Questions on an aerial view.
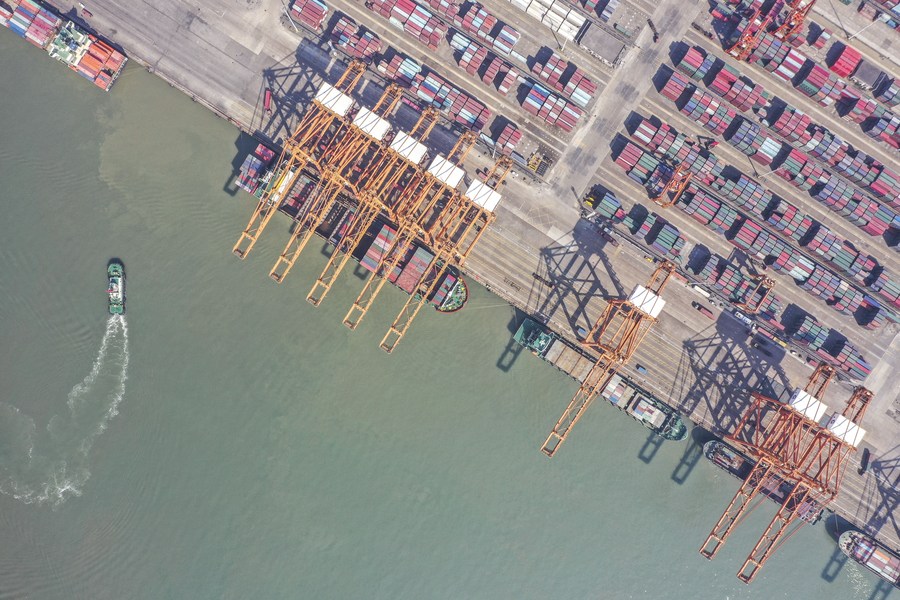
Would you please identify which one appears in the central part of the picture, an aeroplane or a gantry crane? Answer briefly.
gantry crane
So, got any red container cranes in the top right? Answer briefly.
Yes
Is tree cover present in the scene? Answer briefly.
No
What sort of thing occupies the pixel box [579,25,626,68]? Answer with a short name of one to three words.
shed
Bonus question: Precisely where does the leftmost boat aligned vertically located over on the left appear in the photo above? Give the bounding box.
[102,259,126,314]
